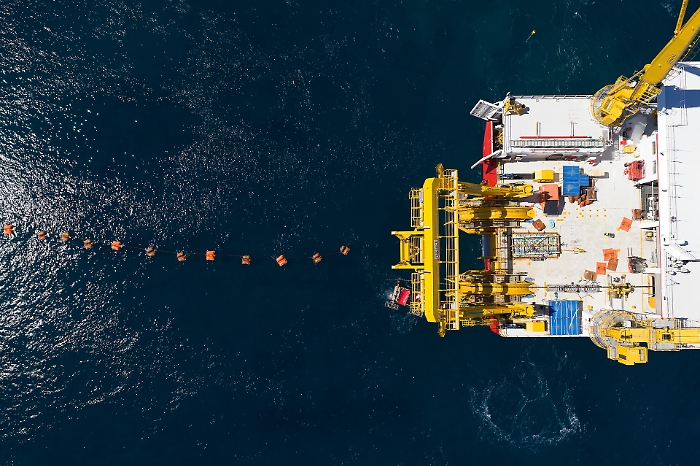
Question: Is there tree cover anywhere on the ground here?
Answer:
No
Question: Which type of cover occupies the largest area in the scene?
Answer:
water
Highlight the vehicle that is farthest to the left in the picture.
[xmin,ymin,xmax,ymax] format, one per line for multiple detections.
[385,277,414,310]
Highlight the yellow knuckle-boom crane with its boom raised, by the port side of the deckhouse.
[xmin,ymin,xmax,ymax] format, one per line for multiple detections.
[587,0,700,128]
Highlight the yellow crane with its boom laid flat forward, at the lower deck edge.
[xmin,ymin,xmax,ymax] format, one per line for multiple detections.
[589,310,700,364]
